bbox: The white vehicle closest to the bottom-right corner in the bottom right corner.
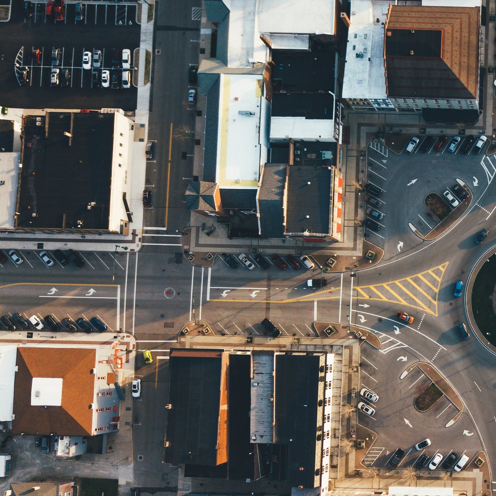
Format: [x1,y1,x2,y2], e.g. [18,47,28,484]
[453,451,471,475]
